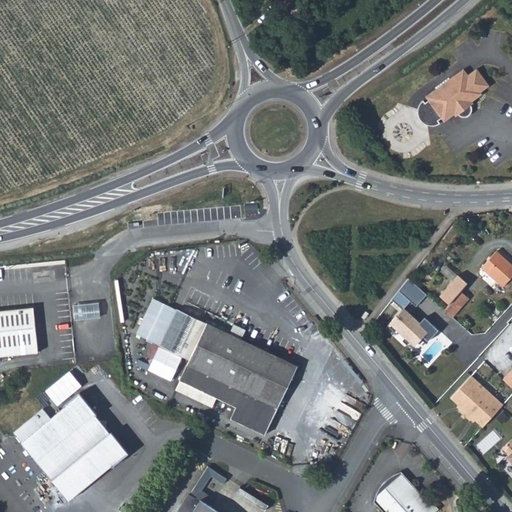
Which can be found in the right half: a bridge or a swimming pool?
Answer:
swimming pool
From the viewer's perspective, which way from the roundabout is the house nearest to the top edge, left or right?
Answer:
to the right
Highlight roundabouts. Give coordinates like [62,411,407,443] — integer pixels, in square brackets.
[226,80,326,181]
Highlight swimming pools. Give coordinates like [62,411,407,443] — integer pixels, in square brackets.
[417,332,453,368]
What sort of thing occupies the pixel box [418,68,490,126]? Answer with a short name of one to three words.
house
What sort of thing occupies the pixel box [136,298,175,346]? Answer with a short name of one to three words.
greenhouse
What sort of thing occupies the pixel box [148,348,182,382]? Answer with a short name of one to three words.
building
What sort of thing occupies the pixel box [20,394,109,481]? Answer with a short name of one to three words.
building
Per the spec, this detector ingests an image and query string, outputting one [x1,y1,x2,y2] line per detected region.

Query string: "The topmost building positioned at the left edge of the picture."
[0,308,38,358]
